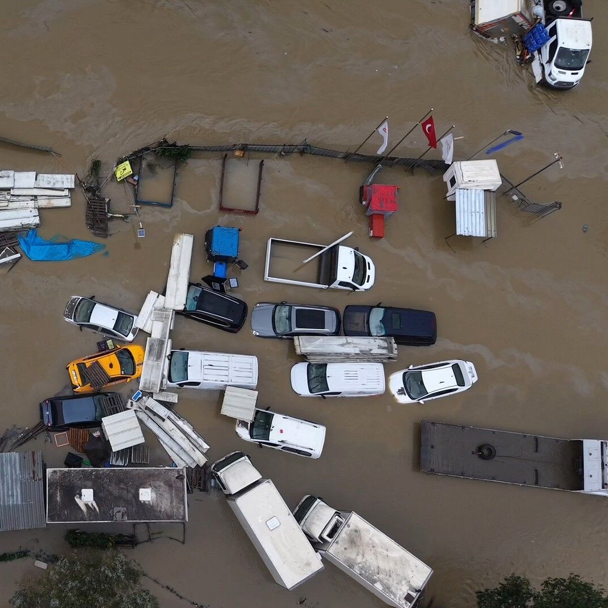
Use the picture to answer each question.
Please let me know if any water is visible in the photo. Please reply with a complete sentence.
Yes, some water is visible.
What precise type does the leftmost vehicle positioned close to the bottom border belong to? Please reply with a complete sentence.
I'd say the leftmost vehicle positioned close to the bottom border is a truck.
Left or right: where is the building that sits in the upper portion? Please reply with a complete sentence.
The building that sits in the upper portion is on the right side of the image.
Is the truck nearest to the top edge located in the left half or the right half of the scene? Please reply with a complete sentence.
You can find the truck nearest to the top edge on the right side of the picture.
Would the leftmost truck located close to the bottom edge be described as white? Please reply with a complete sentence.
Yes, white is the color of the leftmost truck located close to the bottom edge.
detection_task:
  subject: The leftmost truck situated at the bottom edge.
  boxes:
[205,450,324,590]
